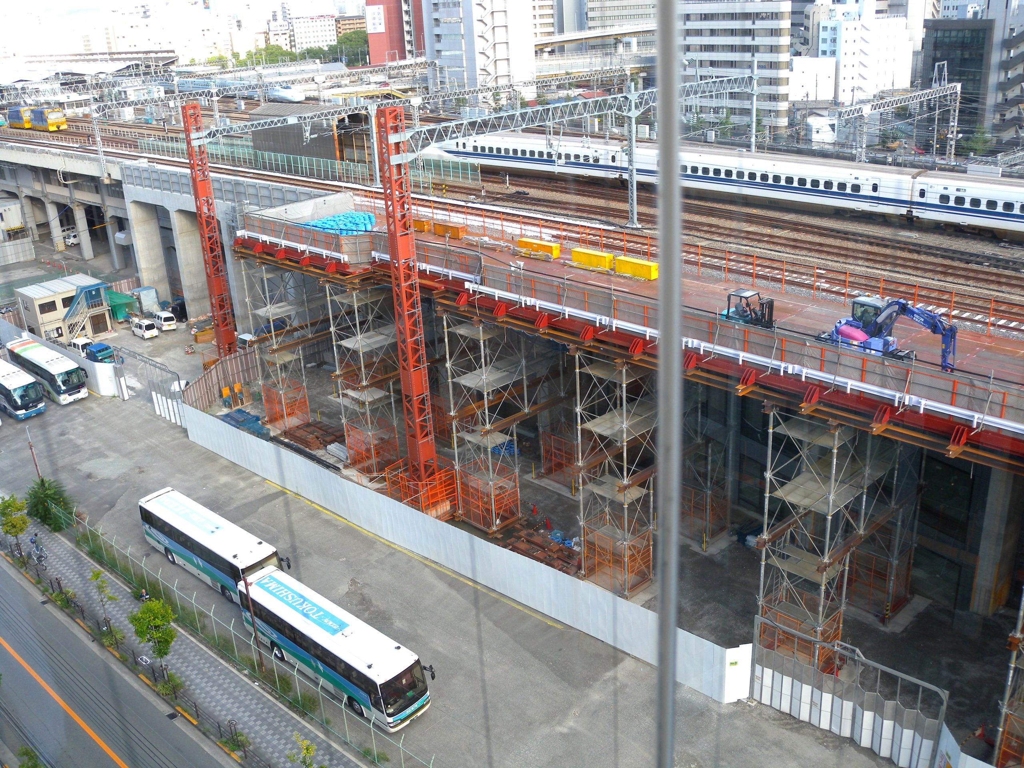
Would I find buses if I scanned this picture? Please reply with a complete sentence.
Yes, a bus appears in the view.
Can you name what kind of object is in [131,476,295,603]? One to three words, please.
bus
